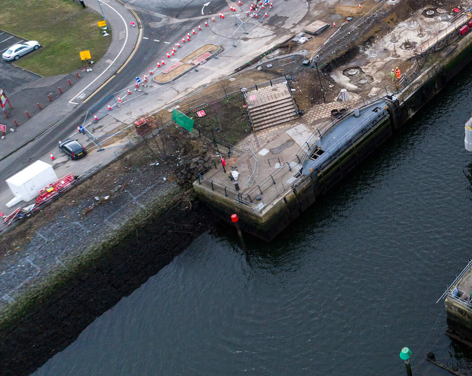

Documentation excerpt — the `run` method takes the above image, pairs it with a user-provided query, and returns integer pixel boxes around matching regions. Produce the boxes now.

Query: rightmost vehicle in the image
[58,140,90,164]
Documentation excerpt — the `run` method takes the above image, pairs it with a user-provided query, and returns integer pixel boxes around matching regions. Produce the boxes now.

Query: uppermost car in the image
[1,42,41,60]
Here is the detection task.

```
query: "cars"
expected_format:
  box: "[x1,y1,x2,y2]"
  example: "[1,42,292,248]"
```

[1,42,41,60]
[58,140,90,164]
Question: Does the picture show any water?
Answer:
Yes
